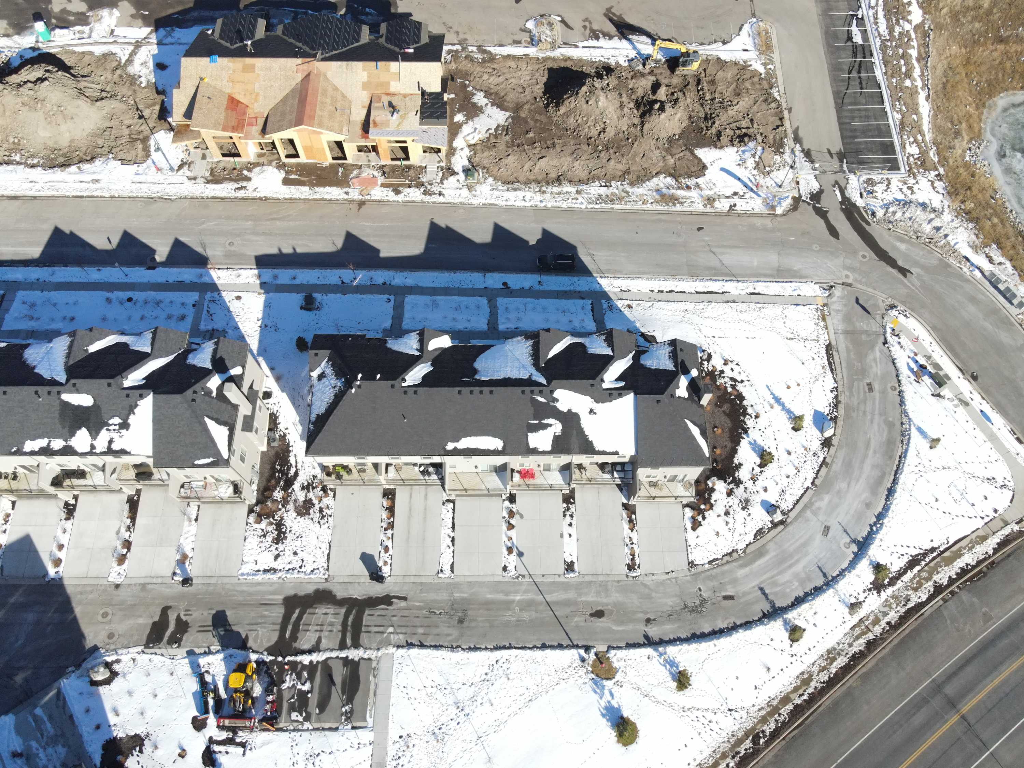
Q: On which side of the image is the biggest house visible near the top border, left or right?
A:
left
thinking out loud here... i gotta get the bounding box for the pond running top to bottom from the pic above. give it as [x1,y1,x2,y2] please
[980,93,1024,218]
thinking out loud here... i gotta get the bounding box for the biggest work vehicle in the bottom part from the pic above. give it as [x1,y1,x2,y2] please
[219,656,259,723]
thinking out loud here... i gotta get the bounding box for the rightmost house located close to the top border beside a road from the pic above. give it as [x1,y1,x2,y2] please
[171,13,450,162]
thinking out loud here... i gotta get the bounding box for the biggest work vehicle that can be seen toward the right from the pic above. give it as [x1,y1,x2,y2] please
[649,30,707,79]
